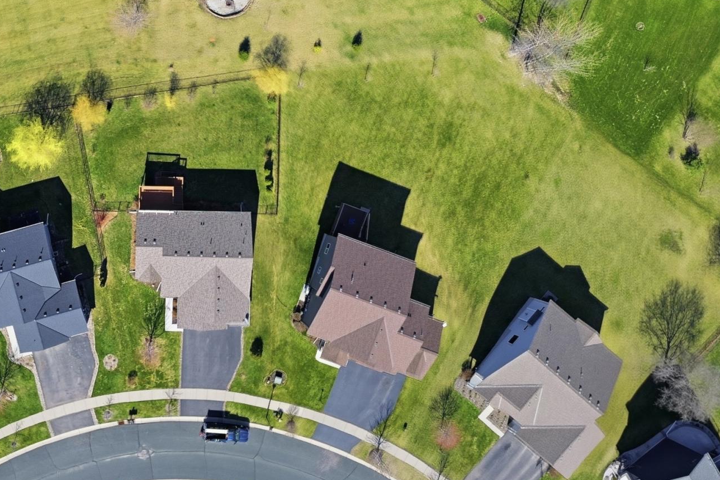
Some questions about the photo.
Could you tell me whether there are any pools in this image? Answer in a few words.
No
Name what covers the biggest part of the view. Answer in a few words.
grass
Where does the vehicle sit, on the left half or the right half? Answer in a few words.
left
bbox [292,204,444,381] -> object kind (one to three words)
house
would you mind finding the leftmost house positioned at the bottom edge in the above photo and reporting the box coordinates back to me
[463,294,622,479]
